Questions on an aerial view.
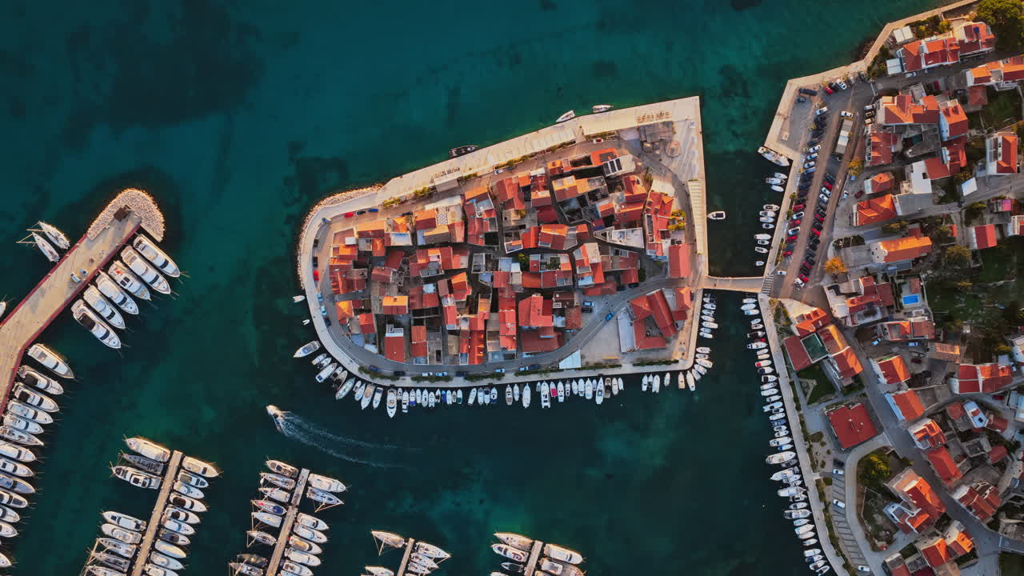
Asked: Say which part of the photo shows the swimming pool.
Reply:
right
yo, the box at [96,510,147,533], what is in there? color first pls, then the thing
white boat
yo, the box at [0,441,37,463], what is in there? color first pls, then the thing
white boat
